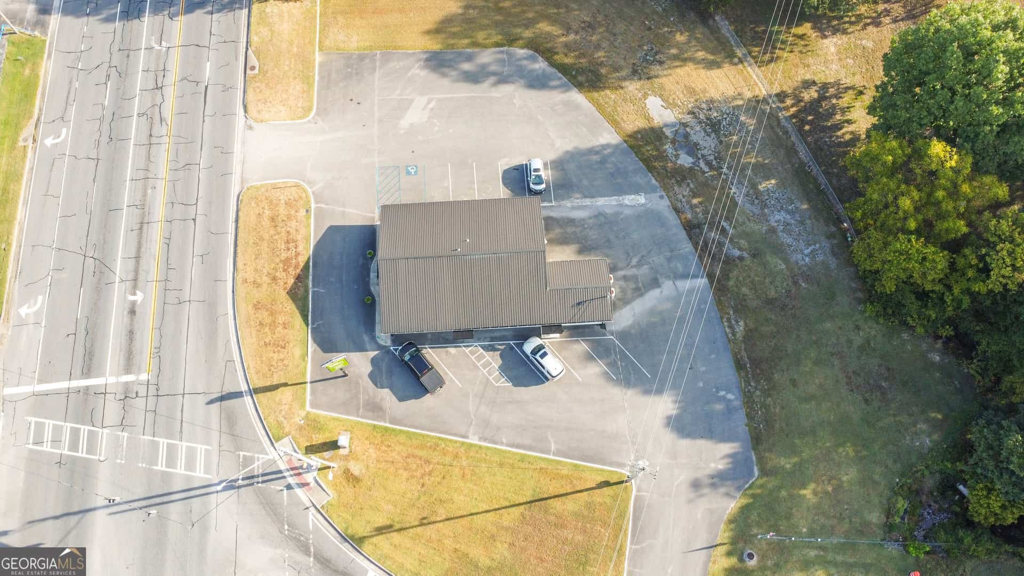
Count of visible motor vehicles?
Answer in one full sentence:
My tally gives 3 motor vehicles in this view.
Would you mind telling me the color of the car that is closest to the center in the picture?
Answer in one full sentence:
From above, the car that is closest to the center appears white.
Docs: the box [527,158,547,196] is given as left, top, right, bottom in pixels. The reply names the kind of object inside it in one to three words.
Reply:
car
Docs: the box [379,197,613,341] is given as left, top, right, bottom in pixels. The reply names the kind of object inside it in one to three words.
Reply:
building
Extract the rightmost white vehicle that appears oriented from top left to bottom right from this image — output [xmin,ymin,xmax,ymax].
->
[522,335,565,381]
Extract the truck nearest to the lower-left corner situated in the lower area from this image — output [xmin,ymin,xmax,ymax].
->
[398,342,445,395]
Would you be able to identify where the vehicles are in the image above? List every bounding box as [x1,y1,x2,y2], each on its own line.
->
[527,158,547,196]
[522,335,565,381]
[398,342,445,395]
